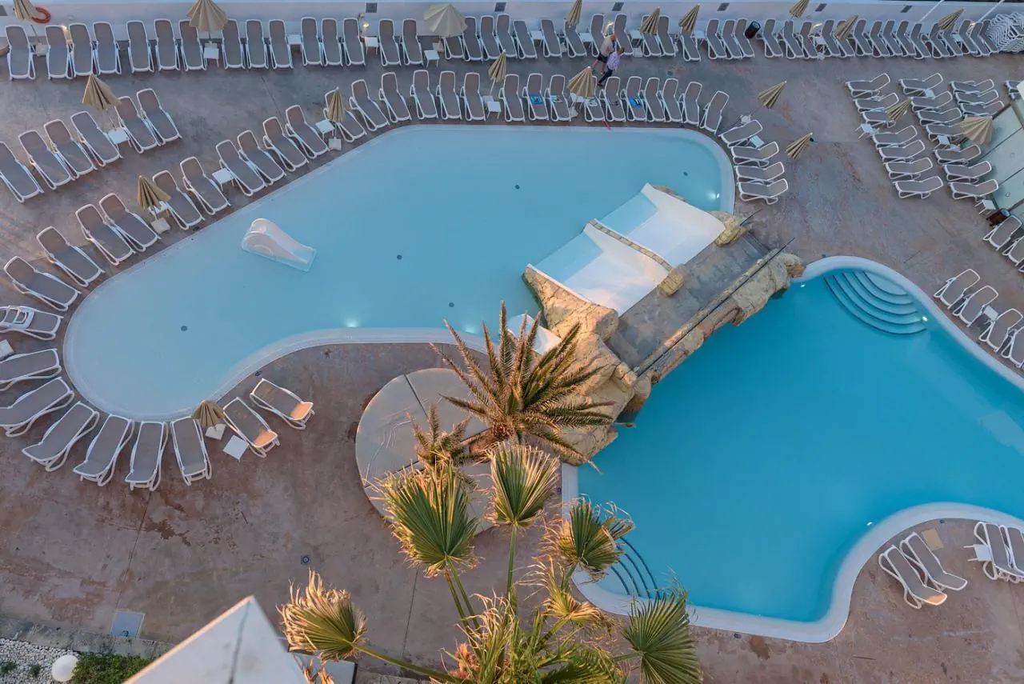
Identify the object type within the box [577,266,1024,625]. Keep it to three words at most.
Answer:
swimming pool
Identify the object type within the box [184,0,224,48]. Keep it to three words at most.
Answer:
umbrella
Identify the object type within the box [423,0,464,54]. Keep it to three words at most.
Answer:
umbrella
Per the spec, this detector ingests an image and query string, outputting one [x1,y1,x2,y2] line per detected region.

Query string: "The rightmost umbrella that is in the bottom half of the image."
[192,399,230,442]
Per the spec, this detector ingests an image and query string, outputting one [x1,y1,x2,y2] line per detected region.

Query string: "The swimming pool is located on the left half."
[70,131,724,420]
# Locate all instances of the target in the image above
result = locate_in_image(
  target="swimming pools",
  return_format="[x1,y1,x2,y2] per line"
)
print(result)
[577,266,1024,625]
[70,131,724,420]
